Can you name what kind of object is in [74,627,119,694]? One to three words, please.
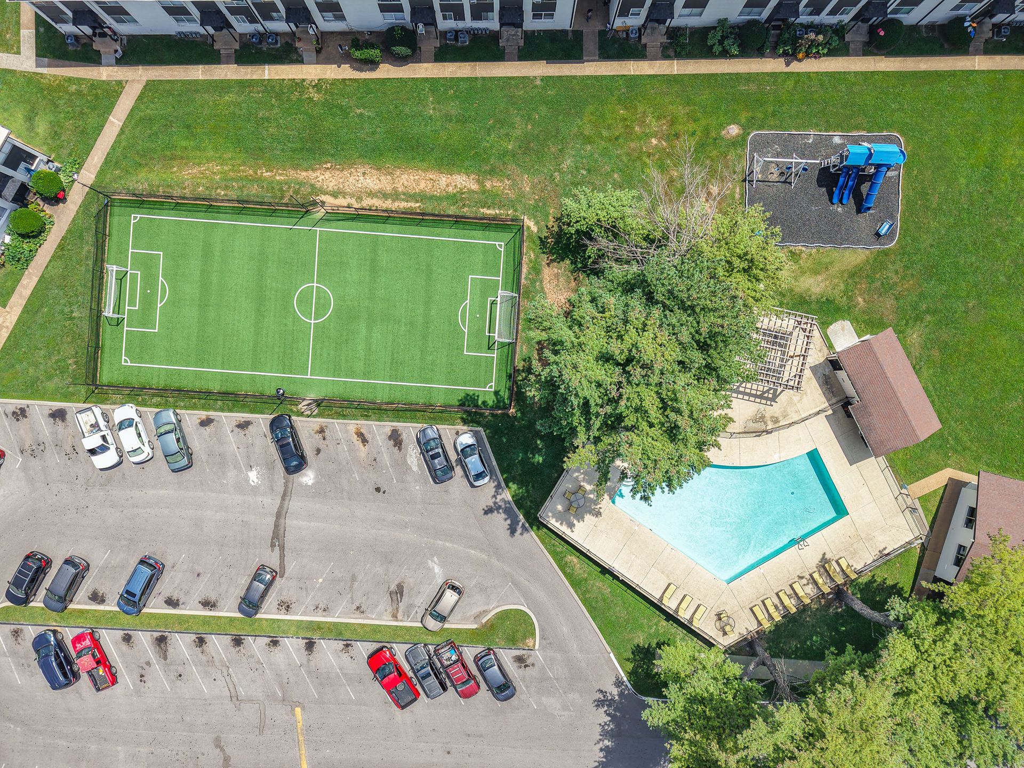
truck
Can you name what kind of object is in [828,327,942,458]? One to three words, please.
building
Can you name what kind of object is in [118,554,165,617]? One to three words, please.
car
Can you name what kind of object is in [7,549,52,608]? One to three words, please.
car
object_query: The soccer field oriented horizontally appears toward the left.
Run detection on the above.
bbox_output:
[92,196,524,411]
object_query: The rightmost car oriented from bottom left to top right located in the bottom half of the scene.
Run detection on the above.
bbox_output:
[422,576,466,633]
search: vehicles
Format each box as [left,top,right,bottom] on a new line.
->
[433,637,479,701]
[369,645,421,712]
[271,413,308,476]
[7,549,52,608]
[154,408,194,473]
[474,645,515,702]
[115,402,156,466]
[43,553,91,613]
[406,641,447,704]
[75,404,122,471]
[34,627,79,695]
[238,563,279,618]
[74,627,119,694]
[422,576,466,633]
[418,423,454,486]
[118,554,165,617]
[456,430,490,489]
